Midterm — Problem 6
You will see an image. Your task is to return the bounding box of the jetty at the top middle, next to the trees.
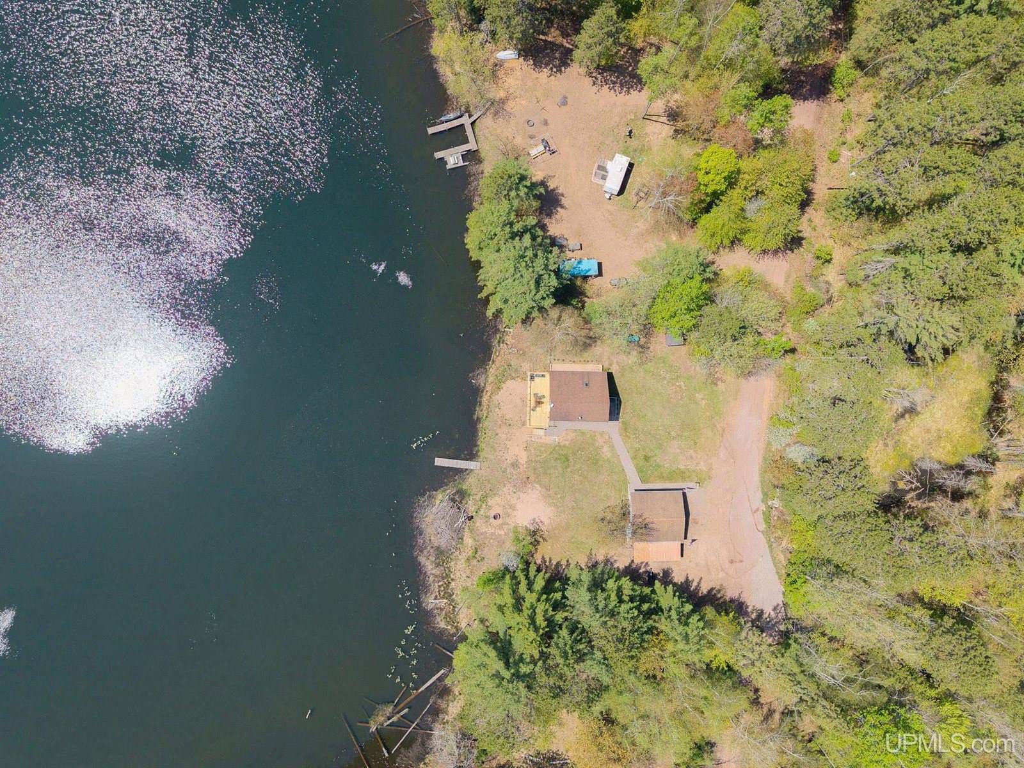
[427,113,477,160]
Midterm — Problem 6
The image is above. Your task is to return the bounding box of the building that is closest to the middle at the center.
[529,365,618,435]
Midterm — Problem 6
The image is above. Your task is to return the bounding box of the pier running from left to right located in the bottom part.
[435,457,480,469]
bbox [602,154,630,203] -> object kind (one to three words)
vehicle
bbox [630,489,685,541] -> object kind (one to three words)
building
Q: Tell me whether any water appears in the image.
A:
Yes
